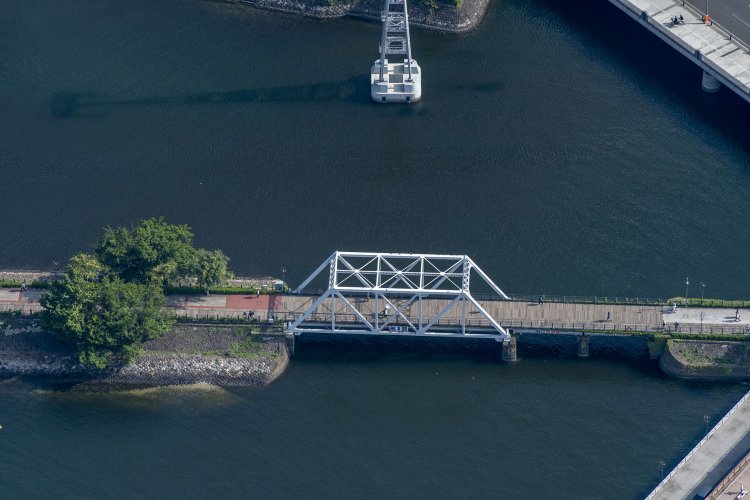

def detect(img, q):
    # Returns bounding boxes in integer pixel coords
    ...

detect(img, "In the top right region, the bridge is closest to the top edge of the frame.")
[584,0,750,103]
